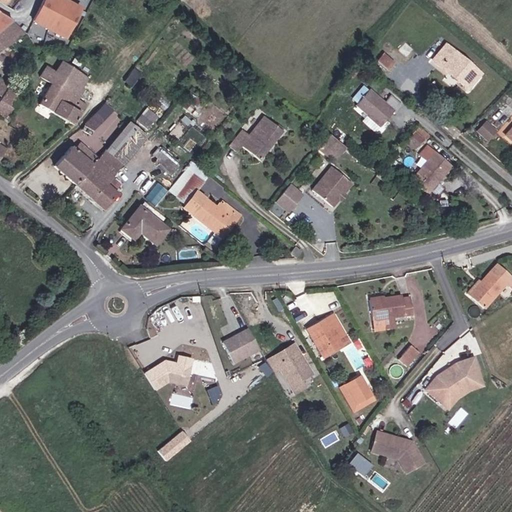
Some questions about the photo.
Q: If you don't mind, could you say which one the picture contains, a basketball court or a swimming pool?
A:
swimming pool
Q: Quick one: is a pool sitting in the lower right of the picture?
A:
Yes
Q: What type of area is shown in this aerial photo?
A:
residential area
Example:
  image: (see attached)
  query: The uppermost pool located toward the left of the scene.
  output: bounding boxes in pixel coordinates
[190,223,210,243]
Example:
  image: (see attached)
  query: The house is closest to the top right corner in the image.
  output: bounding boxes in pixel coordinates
[428,42,484,94]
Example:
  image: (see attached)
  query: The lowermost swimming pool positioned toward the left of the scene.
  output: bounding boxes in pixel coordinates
[178,249,200,261]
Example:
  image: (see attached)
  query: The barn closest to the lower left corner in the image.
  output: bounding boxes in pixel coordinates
[157,432,192,462]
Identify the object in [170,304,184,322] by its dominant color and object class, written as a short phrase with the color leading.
white vehicle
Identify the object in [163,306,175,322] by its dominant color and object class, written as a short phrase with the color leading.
white vehicle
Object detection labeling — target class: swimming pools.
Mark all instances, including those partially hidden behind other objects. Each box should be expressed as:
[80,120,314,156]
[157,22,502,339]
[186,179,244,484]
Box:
[320,430,340,448]
[467,304,480,318]
[368,471,390,492]
[389,363,404,378]
[344,344,364,371]
[403,155,415,168]
[190,223,210,243]
[178,249,200,261]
